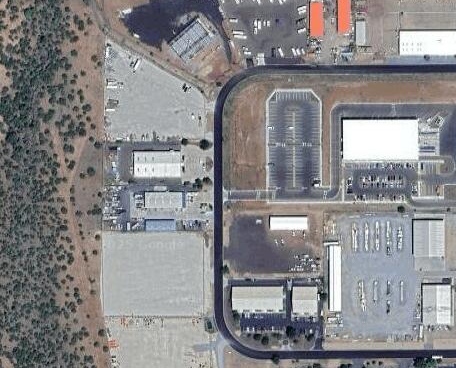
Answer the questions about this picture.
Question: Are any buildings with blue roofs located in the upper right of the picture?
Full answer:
No, there is no building with a blue roof in the upper right of the picture.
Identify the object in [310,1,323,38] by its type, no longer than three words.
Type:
building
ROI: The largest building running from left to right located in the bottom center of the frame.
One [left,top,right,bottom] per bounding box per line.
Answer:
[231,287,283,312]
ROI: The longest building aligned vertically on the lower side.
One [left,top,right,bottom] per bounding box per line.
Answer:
[328,246,341,311]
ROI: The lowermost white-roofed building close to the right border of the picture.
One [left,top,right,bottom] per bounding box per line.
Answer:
[422,283,451,325]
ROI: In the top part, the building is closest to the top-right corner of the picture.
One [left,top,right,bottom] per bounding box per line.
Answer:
[399,29,456,57]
